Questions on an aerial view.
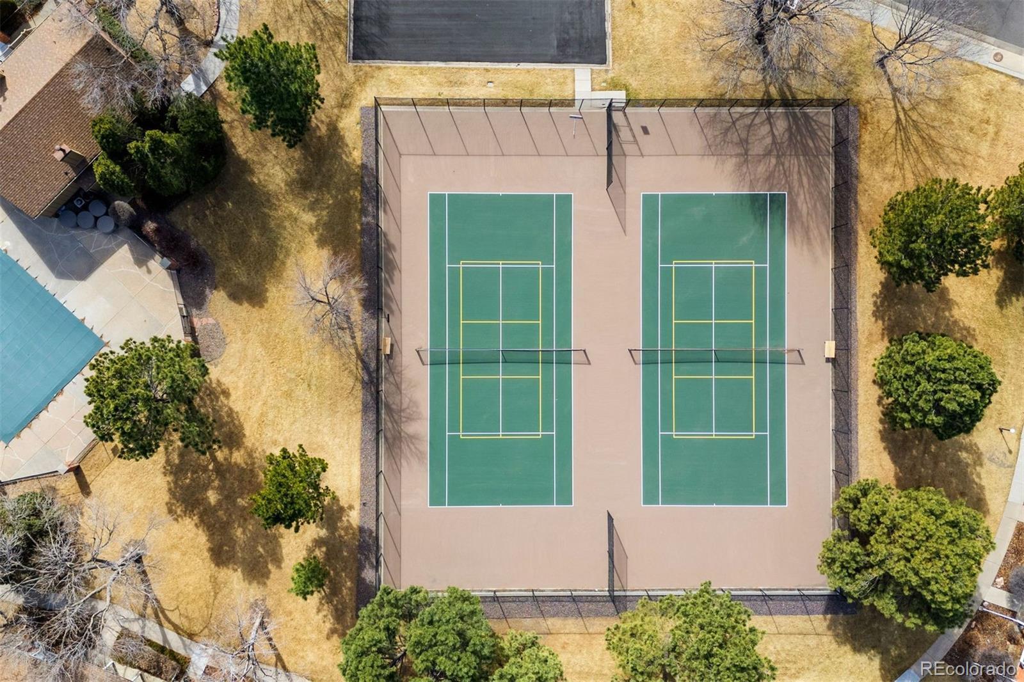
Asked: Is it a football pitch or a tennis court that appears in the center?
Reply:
tennis court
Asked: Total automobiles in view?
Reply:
0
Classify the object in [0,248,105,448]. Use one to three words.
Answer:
swimming pool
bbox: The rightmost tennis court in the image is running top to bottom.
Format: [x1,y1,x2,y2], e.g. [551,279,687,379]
[641,192,787,507]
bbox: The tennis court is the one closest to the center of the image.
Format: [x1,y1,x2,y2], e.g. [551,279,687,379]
[428,193,573,507]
